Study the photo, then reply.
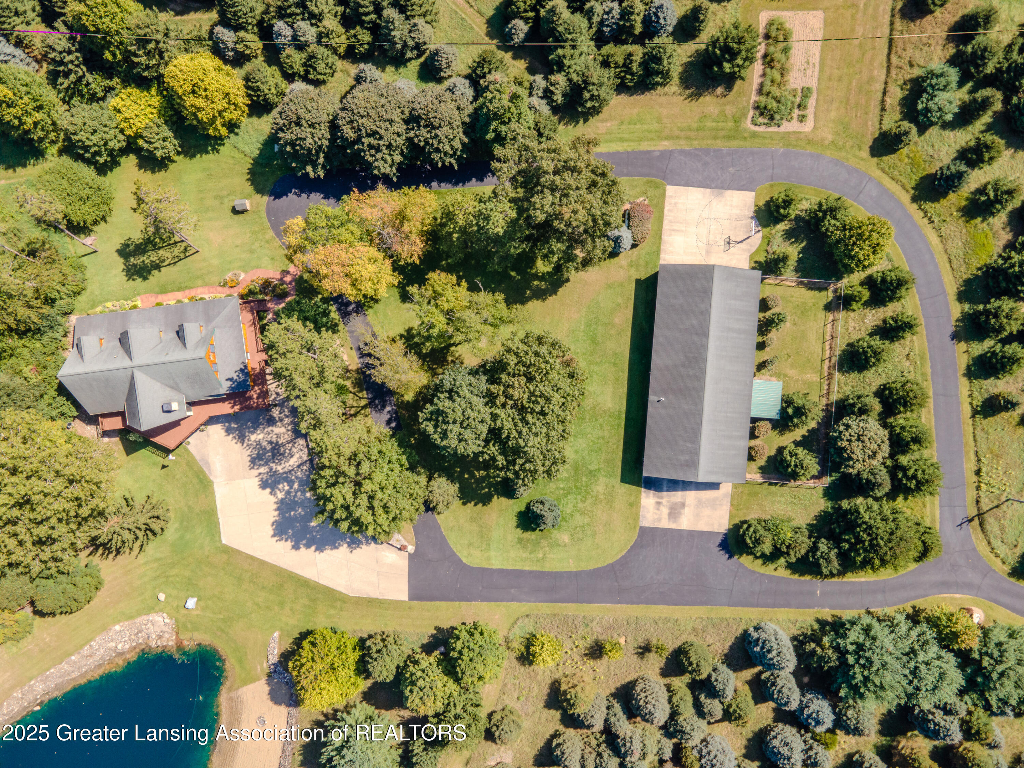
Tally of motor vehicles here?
zero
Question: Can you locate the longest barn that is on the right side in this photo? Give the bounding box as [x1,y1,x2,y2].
[641,264,762,483]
